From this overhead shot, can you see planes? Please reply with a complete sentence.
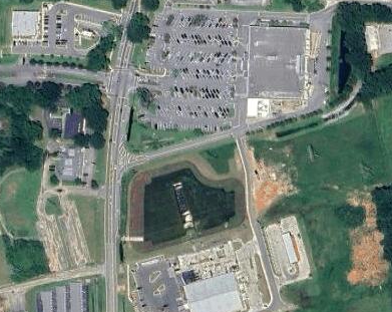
No, no plane is visible in the view.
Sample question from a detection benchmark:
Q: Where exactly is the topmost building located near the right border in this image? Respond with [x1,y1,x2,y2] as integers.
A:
[366,26,381,58]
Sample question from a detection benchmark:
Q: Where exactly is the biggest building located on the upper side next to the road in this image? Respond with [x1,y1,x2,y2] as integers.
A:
[245,25,314,101]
